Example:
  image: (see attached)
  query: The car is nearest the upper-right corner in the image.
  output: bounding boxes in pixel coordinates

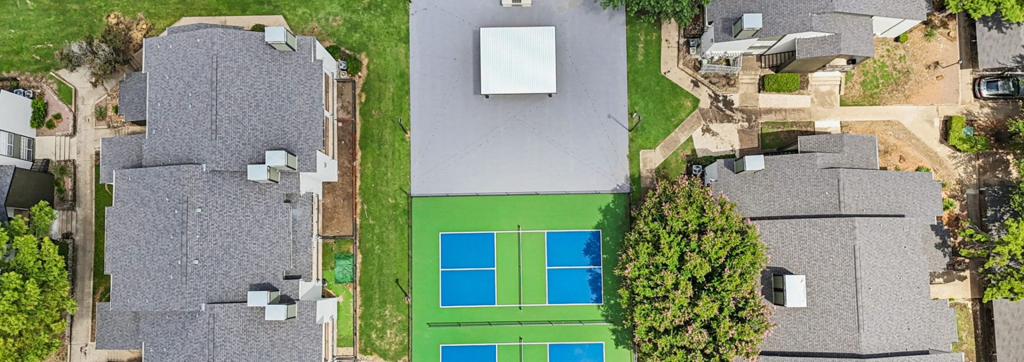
[973,74,1024,101]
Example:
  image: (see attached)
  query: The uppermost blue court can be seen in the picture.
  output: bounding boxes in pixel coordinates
[439,229,604,308]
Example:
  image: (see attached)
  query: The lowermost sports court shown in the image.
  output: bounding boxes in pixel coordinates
[440,342,606,362]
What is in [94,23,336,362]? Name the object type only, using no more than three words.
building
